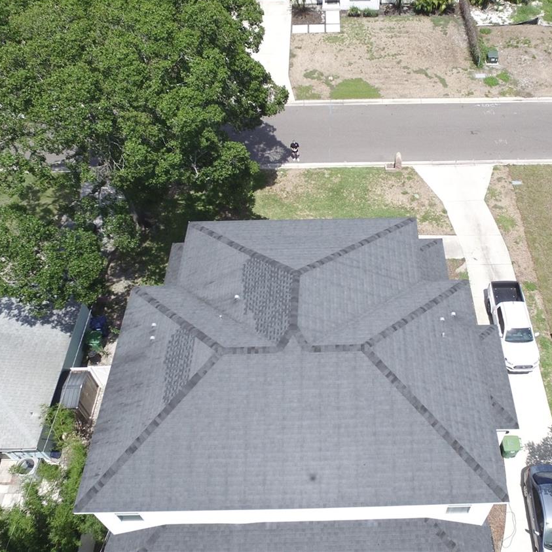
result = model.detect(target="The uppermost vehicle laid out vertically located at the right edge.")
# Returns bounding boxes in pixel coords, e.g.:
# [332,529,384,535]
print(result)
[487,283,544,380]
